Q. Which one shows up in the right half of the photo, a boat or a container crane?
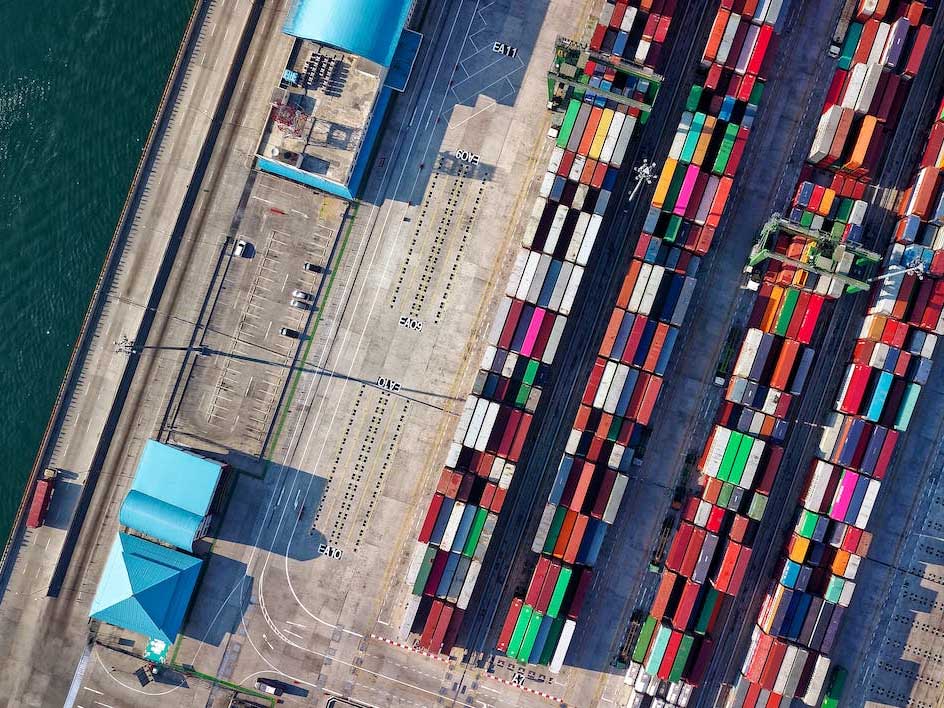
container crane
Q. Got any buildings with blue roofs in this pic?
Yes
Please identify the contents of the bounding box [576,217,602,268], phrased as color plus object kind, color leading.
white shipping container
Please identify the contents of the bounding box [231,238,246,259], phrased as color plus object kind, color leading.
white vehicle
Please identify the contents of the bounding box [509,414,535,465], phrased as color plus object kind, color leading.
red shipping container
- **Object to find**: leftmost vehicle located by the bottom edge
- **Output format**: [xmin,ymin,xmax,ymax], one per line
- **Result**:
[255,675,287,696]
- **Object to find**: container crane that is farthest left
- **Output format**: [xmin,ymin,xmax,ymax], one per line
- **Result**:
[543,37,667,145]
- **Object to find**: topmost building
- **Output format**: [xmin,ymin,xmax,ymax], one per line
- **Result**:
[281,0,429,99]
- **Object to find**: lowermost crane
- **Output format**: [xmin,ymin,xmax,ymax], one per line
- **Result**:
[738,214,890,304]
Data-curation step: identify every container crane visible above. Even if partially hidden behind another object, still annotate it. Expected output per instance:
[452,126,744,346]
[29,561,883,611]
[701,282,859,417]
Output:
[738,214,890,304]
[543,37,667,145]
